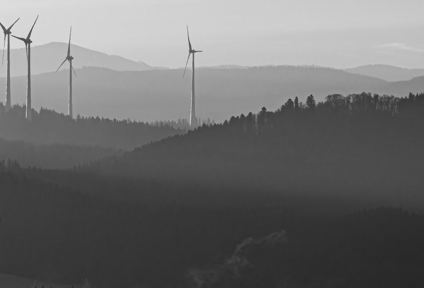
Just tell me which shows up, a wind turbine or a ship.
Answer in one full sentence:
The one in the frame is a wind turbine.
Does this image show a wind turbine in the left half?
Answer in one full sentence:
Yes, a wind turbine can be seen in the left half.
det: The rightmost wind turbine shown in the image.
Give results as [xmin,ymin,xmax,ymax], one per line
[180,27,202,136]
